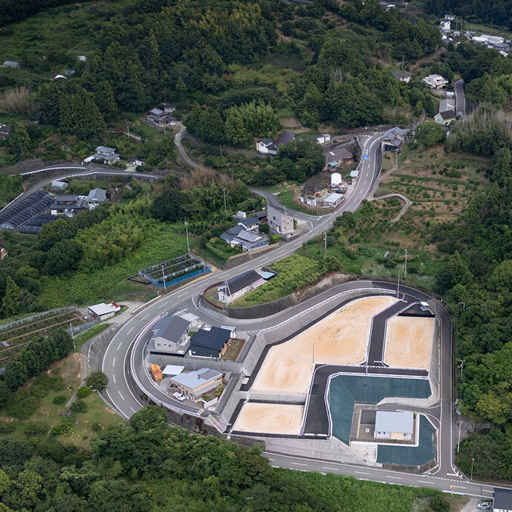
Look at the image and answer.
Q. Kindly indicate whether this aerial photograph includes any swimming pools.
No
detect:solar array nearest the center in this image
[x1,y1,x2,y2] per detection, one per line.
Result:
[222,270,255,294]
